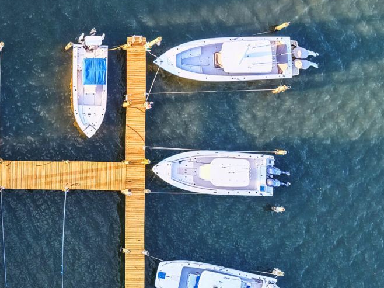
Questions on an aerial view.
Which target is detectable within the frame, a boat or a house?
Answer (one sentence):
Visible in the photo is a boat.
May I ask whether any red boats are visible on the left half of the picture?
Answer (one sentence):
No, there's no red boat to be seen on the left half of the picture.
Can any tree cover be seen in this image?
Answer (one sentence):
No, tree cover can't be seen anywhere here.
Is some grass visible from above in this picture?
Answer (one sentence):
No, the picture contains no grass.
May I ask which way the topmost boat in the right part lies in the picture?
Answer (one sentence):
What the image shows is the topmost boat in the right part lying from left to right.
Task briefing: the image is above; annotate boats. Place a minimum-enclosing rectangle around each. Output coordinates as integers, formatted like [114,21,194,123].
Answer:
[71,25,108,138]
[155,260,278,288]
[154,149,295,198]
[154,37,324,82]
